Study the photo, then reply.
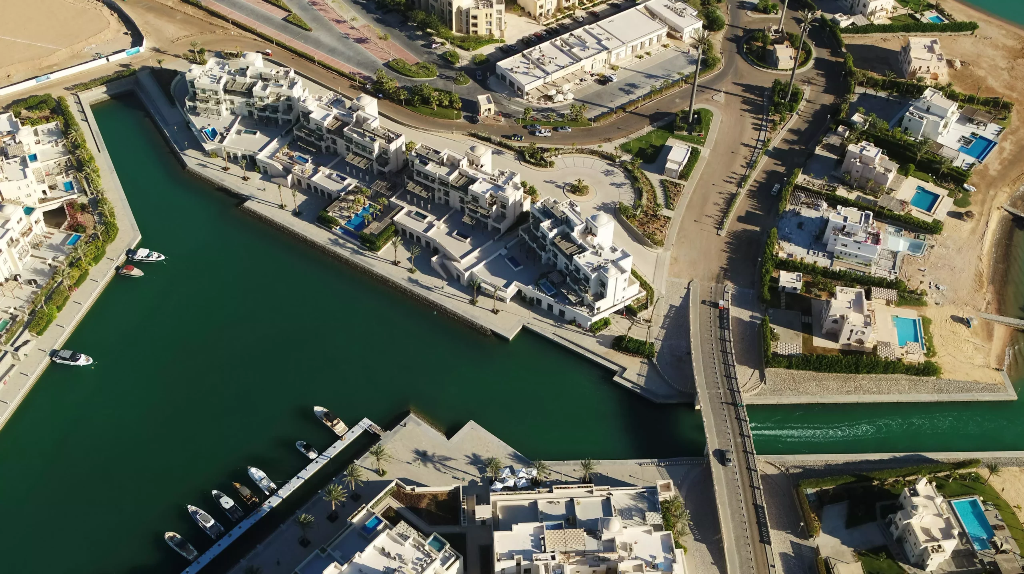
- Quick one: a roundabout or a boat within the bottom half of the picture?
boat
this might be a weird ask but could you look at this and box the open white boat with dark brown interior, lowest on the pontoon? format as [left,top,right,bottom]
[165,531,207,565]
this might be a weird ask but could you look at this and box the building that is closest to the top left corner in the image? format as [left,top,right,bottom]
[0,112,87,216]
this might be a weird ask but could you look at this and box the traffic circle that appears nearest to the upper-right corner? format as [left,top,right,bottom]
[740,32,817,74]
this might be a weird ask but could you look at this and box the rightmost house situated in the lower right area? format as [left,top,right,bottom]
[888,478,958,570]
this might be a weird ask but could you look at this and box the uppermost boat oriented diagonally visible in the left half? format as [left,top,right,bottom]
[314,404,355,436]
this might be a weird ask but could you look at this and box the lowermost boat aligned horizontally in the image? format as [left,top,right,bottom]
[53,351,94,365]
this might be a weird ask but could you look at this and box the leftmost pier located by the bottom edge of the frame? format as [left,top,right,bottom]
[183,418,374,574]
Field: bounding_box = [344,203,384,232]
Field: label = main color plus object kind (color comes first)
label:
blue swimming pool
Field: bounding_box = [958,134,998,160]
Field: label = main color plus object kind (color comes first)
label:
blue swimming pool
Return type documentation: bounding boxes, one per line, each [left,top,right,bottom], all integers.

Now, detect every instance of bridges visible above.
[689,285,778,574]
